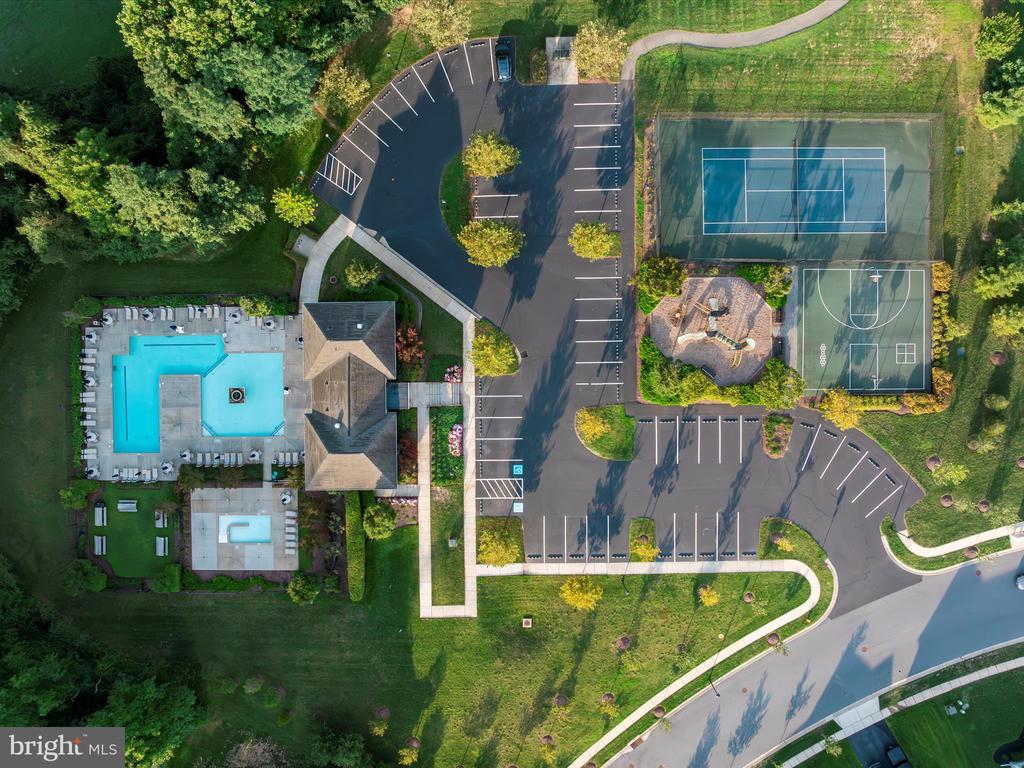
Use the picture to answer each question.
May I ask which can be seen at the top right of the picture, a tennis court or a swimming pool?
tennis court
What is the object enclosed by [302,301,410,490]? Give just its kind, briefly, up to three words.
building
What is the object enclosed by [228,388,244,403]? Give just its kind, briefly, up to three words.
fountain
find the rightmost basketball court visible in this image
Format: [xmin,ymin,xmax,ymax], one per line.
[797,263,932,394]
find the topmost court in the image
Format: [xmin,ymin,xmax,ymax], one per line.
[657,118,931,262]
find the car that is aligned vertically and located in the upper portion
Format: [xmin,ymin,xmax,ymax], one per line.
[495,43,513,83]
